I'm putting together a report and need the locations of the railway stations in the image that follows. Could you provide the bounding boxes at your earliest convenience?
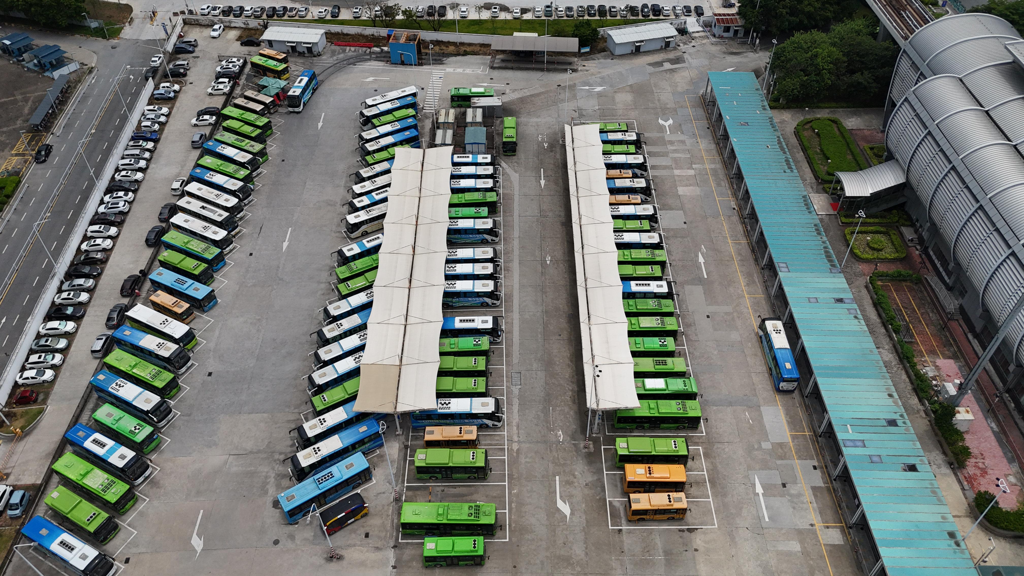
[877,10,1024,423]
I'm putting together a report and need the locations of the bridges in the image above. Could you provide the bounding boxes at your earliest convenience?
[857,0,938,70]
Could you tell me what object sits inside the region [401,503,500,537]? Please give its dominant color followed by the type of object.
green bus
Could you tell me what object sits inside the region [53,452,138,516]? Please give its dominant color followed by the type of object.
green bus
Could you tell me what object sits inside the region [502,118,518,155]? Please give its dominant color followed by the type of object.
green vehicle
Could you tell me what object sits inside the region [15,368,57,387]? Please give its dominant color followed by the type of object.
white car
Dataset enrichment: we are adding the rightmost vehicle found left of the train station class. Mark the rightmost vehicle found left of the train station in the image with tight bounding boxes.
[758,314,800,393]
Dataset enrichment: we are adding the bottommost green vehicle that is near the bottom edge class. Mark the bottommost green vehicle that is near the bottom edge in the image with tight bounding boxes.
[416,535,496,570]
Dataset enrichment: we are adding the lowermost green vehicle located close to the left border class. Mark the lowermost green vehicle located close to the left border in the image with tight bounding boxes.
[45,486,118,545]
